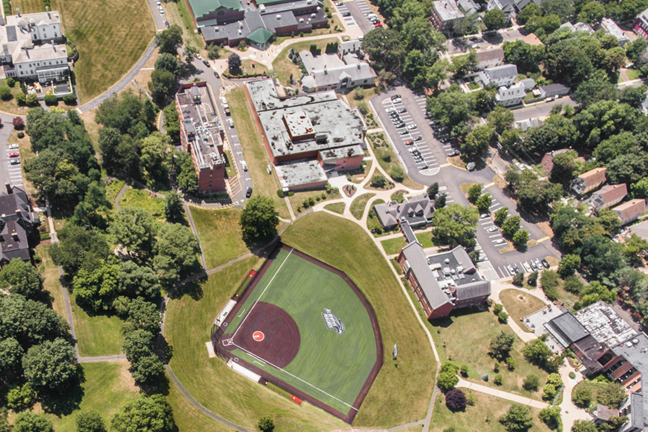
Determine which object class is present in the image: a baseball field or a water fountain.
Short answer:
baseball field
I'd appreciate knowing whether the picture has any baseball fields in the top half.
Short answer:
No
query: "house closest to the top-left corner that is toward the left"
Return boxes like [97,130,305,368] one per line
[0,4,69,79]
